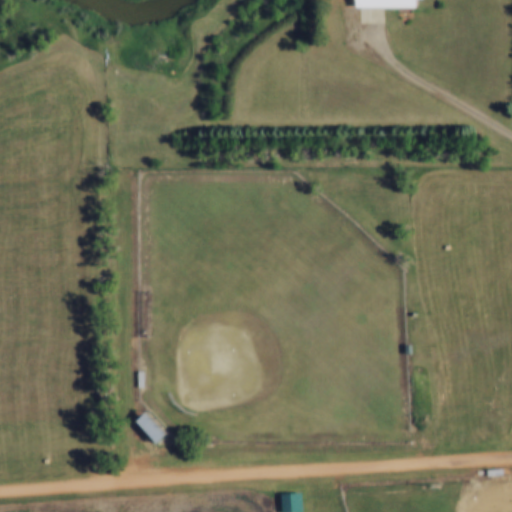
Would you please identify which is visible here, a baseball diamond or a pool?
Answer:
baseball diamond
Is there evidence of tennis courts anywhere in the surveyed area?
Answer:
No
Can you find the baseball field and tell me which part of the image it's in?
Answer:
center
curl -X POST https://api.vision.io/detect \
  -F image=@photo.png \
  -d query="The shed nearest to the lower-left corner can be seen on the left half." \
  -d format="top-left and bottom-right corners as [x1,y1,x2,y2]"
[136,412,166,444]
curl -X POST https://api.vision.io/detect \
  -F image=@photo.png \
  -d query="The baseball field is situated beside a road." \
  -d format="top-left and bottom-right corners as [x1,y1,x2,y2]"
[148,182,404,438]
